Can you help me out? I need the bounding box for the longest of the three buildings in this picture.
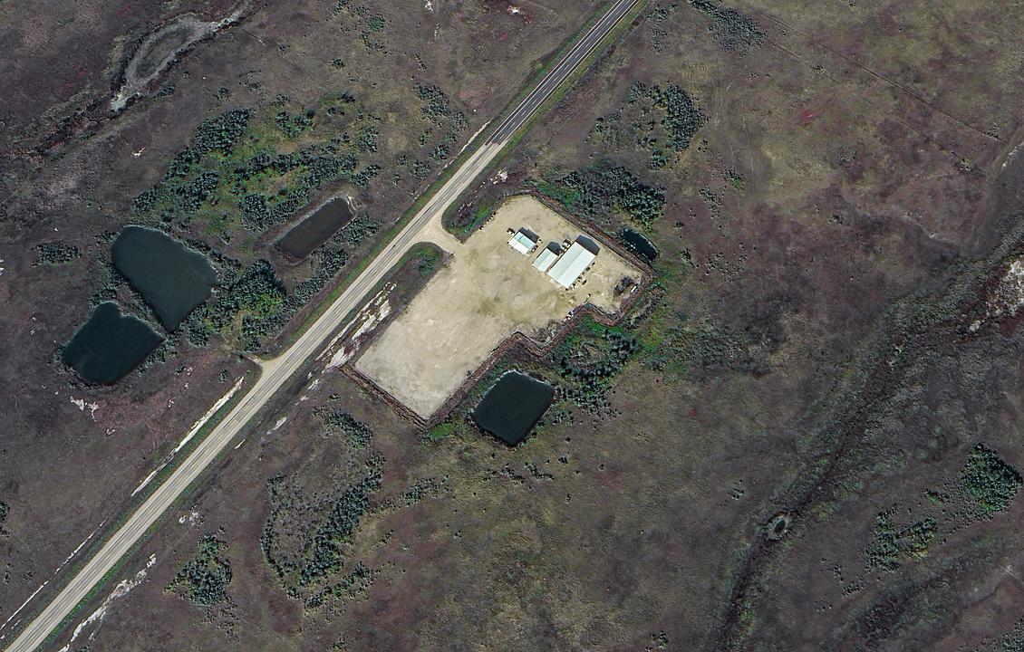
[549,241,595,290]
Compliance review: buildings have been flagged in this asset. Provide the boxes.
[549,241,595,290]
[533,247,558,273]
[509,230,535,255]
